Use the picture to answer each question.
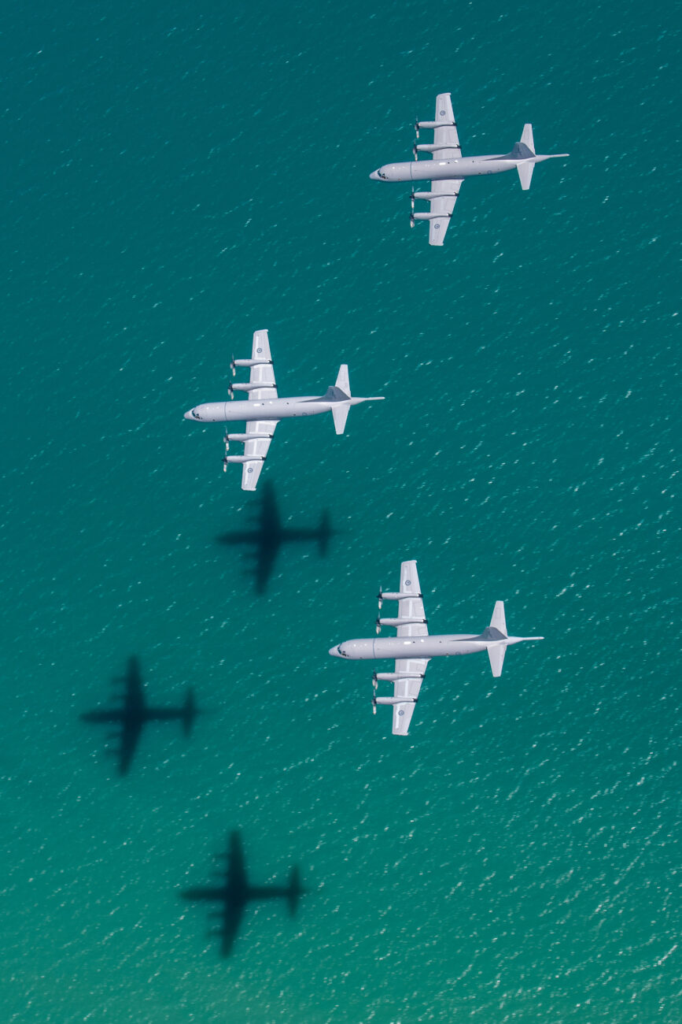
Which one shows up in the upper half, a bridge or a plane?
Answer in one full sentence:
Visible in the upper half is a plane.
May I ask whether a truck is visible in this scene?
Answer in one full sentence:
No, there appears to be no truck in this shot.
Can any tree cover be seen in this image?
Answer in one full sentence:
No, no tree cover is visible.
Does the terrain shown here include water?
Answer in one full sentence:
Yes, there is water in the image.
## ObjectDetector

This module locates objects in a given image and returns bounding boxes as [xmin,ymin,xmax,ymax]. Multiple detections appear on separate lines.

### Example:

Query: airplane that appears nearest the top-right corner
[370,92,569,246]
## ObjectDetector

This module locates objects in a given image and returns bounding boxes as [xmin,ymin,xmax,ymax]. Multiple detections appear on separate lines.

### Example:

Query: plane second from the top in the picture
[185,329,384,492]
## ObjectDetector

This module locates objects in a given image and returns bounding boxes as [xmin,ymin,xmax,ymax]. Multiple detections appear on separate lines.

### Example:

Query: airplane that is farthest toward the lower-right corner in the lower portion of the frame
[329,558,544,738]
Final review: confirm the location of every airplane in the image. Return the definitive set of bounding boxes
[329,558,544,738]
[185,329,384,492]
[370,92,569,246]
